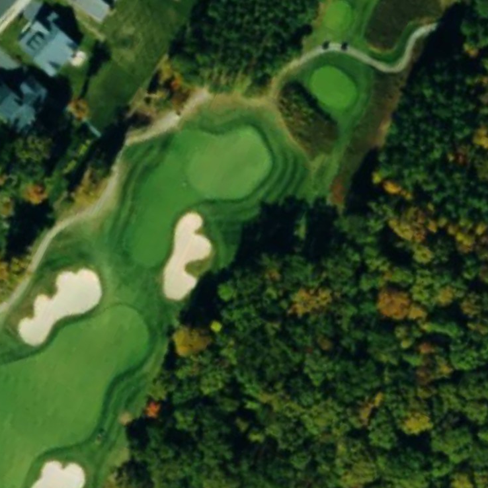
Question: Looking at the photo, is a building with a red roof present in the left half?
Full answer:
No, no building with a red roof can be made out in the left half.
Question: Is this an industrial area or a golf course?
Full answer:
This image shows a golf course.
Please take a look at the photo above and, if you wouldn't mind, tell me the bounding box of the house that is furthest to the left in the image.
[0,70,48,130]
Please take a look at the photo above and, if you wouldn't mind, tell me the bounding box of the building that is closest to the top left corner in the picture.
[18,6,85,74]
